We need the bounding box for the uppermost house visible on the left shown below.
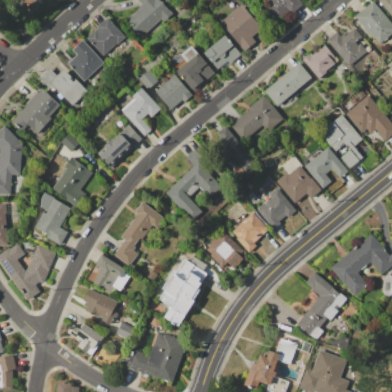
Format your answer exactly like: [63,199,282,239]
[130,0,174,35]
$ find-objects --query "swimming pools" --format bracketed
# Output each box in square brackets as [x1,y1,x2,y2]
[276,364,298,381]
